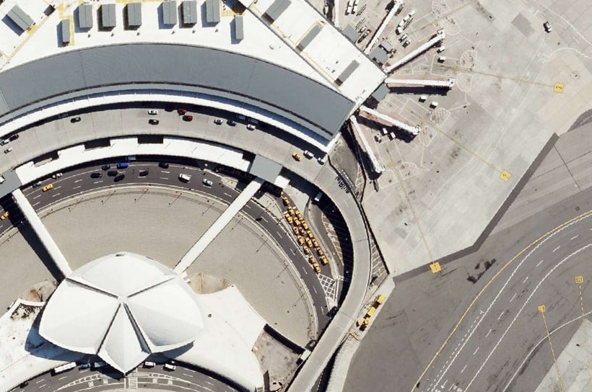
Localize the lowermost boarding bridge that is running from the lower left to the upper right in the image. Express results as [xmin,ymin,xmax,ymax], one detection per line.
[383,29,448,73]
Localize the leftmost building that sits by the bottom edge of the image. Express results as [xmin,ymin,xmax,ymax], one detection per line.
[0,252,265,392]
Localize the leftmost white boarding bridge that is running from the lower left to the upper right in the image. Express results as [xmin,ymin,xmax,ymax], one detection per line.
[363,0,403,55]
